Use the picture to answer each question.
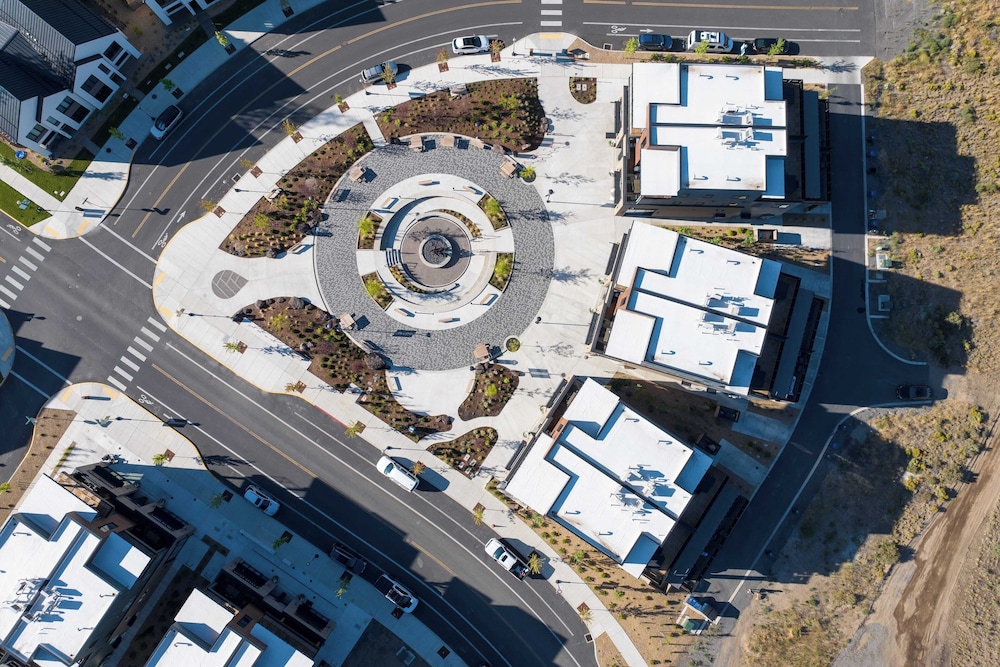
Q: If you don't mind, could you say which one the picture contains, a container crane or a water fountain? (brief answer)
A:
water fountain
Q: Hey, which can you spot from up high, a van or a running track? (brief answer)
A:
van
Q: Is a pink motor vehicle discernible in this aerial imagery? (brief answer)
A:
No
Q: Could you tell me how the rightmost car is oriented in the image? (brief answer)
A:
horizontally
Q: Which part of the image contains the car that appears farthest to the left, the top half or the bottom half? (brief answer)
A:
top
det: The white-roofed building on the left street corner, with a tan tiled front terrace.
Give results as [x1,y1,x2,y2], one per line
[0,461,199,667]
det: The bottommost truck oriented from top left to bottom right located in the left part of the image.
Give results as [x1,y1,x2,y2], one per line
[371,569,422,617]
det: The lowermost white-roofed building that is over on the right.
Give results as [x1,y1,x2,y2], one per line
[501,370,747,595]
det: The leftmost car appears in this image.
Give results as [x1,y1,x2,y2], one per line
[150,104,186,140]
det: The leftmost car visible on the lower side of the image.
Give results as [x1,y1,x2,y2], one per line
[240,482,280,517]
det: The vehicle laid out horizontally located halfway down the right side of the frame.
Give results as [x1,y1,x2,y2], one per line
[894,383,935,402]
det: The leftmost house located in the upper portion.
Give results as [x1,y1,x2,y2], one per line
[0,0,143,156]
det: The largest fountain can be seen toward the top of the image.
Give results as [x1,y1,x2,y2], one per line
[419,235,453,269]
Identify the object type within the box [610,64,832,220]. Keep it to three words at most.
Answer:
building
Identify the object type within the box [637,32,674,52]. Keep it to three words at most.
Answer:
car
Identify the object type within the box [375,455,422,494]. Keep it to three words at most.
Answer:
van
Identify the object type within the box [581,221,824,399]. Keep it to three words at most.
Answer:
building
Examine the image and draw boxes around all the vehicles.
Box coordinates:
[482,535,532,584]
[375,455,422,494]
[371,569,422,617]
[358,61,400,86]
[240,482,280,517]
[637,32,674,52]
[150,104,186,140]
[450,33,490,56]
[684,29,731,55]
[894,383,935,402]
[752,36,790,56]
[324,538,370,578]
